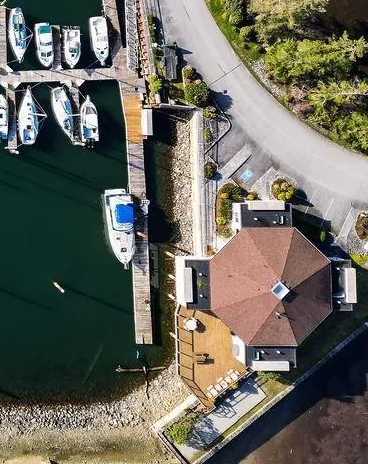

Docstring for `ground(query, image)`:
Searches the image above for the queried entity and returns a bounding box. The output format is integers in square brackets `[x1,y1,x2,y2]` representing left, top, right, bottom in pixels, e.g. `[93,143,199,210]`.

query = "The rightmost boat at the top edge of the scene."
[88,16,110,68]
